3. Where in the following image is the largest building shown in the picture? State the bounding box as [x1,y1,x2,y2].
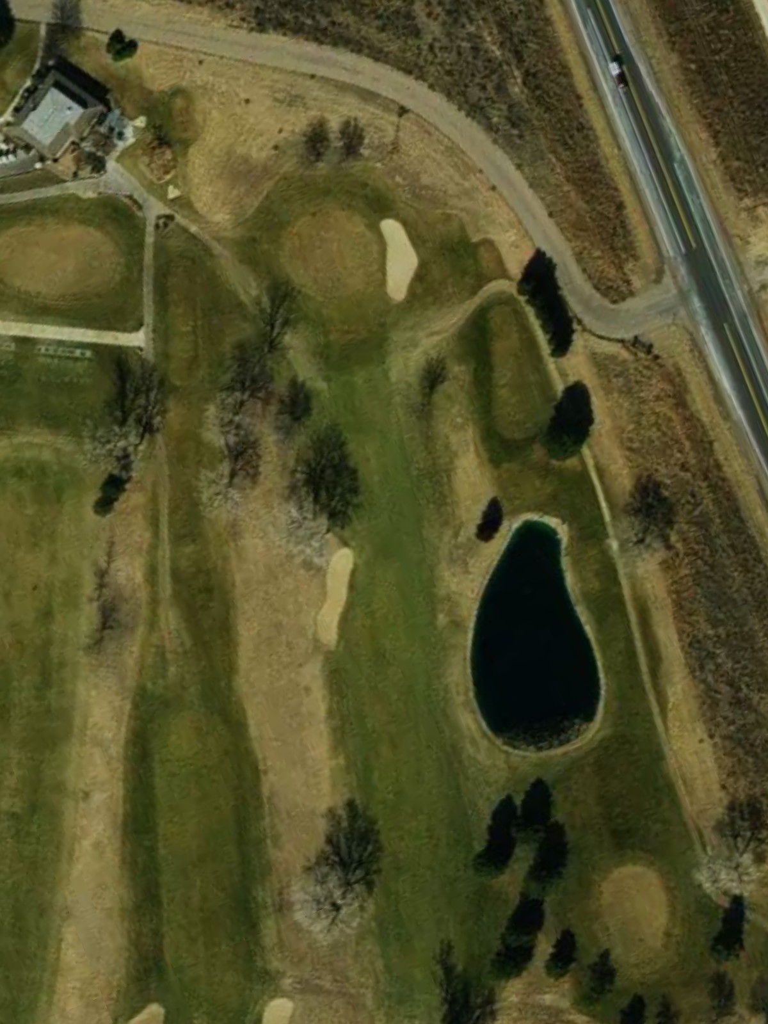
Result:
[1,71,108,161]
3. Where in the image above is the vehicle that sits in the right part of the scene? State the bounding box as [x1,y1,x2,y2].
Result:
[609,58,625,87]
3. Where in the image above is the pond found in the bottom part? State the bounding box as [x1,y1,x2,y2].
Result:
[471,518,601,748]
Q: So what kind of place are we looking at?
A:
golf course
